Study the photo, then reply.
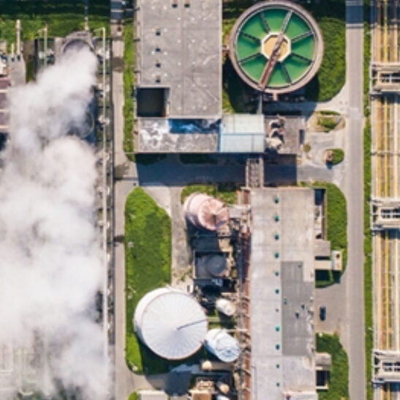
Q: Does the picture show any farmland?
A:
No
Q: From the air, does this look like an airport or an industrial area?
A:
industrial area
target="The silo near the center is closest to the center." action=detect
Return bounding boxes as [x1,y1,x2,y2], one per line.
[179,195,231,235]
